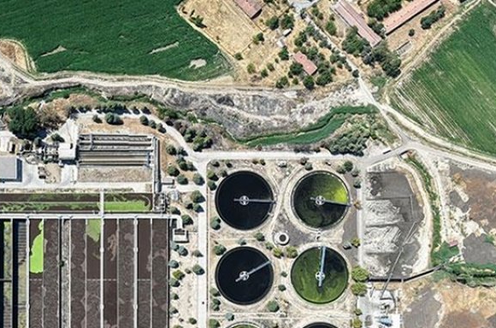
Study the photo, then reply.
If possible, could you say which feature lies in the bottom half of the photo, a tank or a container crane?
tank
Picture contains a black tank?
Yes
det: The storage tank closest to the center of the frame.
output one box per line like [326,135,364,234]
[215,171,278,230]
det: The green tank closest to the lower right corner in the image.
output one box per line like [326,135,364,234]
[291,245,350,303]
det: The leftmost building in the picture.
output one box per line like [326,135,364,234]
[0,156,17,179]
